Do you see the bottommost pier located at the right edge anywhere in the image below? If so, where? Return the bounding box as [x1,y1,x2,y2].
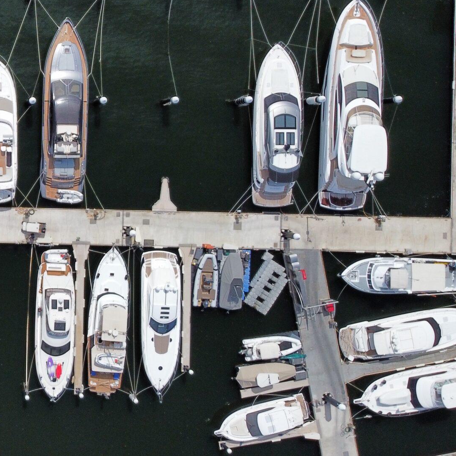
[284,250,456,456]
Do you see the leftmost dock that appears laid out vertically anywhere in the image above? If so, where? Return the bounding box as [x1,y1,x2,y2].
[72,240,91,395]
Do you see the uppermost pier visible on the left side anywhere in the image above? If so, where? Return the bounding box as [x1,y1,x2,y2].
[150,178,177,212]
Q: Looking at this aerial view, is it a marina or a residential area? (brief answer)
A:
marina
